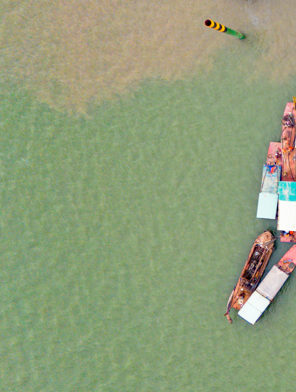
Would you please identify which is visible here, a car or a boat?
boat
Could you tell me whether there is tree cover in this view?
No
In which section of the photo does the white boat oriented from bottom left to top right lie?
bottom right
